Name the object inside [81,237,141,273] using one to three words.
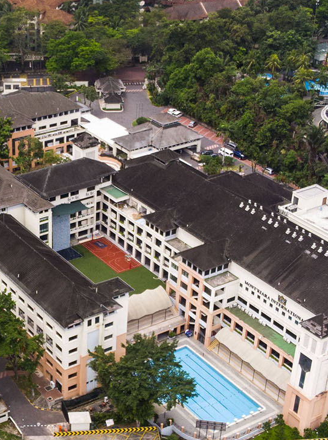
basketball court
